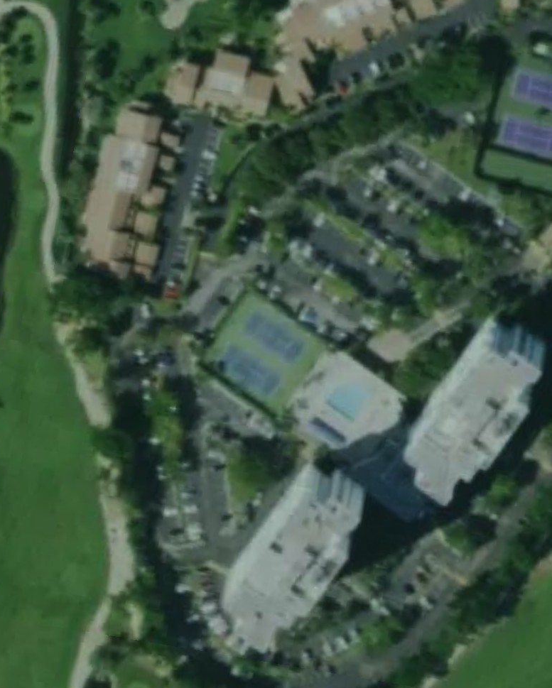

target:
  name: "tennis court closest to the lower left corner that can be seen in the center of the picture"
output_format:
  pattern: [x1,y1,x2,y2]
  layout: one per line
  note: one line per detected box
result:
[213,342,284,401]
